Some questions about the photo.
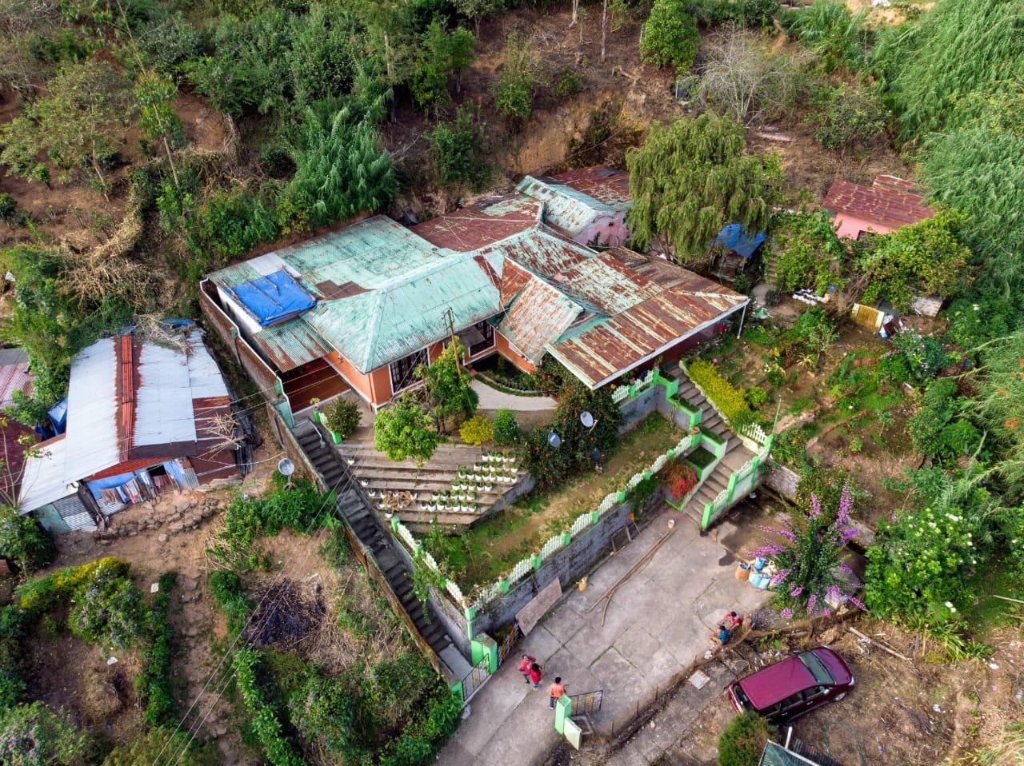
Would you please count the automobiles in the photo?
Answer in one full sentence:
Altogether the scene contains 1 automobile.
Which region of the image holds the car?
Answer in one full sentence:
The car sits in the bottom right section of the image.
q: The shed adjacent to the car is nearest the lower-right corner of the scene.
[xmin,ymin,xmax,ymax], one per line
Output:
[756,725,840,766]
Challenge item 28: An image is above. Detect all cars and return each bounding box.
[734,646,862,724]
